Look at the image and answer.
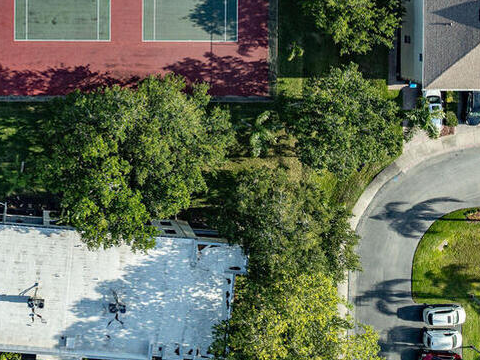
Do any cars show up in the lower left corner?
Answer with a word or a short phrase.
No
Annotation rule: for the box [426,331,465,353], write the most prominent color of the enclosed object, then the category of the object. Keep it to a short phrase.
white car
